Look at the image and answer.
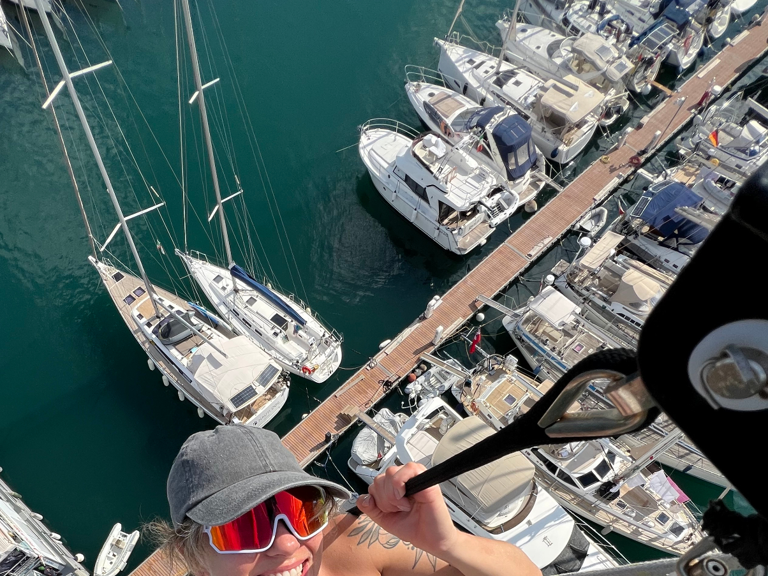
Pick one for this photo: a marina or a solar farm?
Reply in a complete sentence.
It's a marina.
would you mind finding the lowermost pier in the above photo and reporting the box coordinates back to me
[285,12,768,456]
